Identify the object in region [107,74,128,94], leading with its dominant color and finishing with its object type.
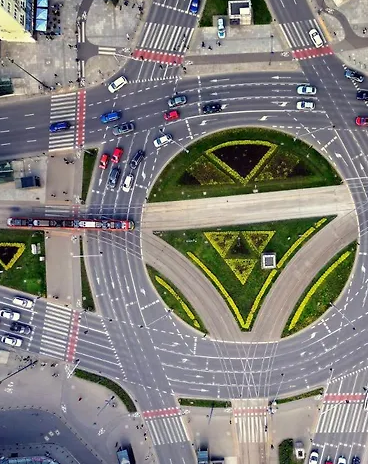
white car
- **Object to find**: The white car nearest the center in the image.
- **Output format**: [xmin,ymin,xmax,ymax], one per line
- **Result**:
[122,173,135,193]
